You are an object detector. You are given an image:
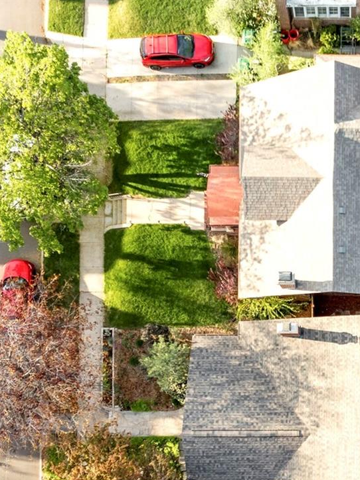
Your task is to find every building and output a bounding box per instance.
[182,313,360,480]
[260,0,360,34]
[206,57,360,301]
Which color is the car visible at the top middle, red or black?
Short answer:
red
